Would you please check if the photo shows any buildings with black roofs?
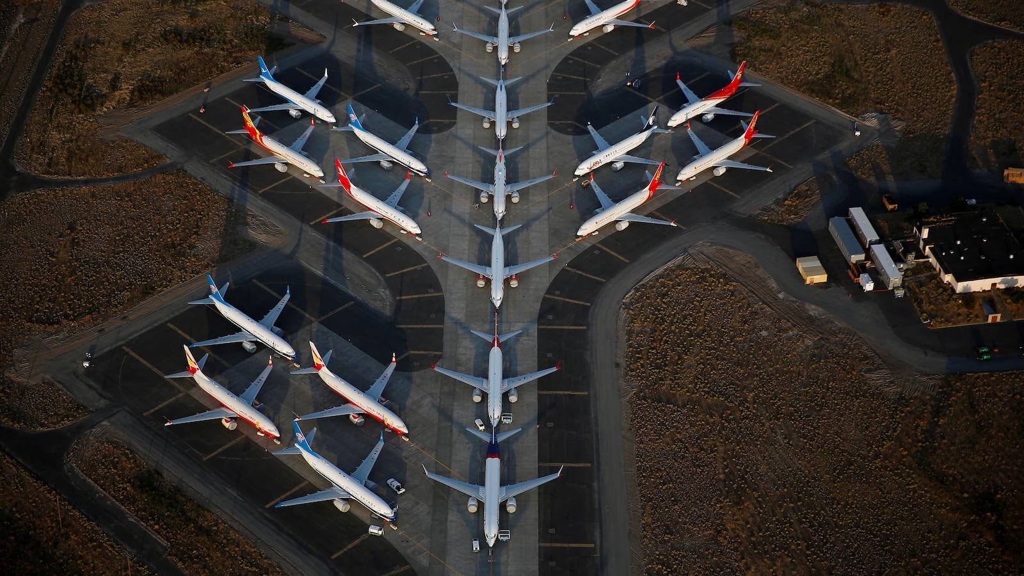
Yes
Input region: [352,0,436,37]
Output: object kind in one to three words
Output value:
airplane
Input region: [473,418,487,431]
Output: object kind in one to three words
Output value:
vehicle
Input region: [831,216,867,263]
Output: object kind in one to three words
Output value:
building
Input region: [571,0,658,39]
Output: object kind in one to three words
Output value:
airplane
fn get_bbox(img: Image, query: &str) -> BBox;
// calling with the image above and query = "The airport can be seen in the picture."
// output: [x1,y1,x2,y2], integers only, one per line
[75,0,840,576]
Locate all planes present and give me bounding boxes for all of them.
[243,55,335,125]
[443,129,557,221]
[577,160,680,238]
[575,105,674,178]
[668,60,761,129]
[272,419,395,523]
[571,0,658,39]
[352,0,436,37]
[453,0,554,66]
[437,207,558,308]
[291,341,407,436]
[677,110,775,183]
[188,273,296,362]
[430,316,561,427]
[448,60,555,144]
[422,409,563,546]
[331,103,428,177]
[226,106,323,179]
[318,158,421,236]
[164,345,279,440]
